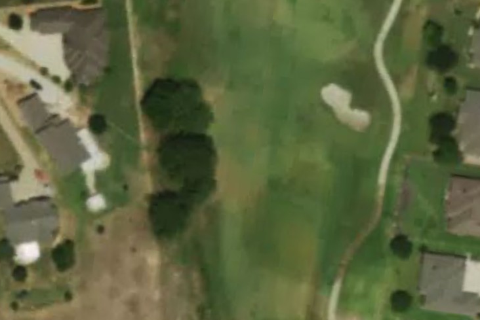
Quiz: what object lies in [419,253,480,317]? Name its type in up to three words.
house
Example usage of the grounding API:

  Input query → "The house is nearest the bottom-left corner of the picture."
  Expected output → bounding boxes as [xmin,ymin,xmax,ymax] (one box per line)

[0,179,60,246]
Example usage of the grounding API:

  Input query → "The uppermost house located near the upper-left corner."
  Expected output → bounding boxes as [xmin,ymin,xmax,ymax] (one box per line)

[29,6,107,89]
